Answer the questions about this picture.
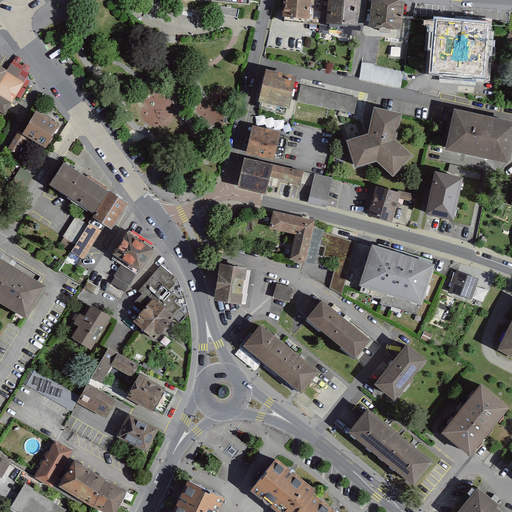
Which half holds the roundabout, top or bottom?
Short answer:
bottom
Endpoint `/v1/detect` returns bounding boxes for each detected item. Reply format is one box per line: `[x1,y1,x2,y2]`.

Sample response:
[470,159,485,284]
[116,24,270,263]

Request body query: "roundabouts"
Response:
[192,362,252,422]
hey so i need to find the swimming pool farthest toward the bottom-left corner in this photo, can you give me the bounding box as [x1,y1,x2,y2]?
[24,438,40,454]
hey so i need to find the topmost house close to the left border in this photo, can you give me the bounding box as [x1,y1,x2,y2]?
[0,56,30,114]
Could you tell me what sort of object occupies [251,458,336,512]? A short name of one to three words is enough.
building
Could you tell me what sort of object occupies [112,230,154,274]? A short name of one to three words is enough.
house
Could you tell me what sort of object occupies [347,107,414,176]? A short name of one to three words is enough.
building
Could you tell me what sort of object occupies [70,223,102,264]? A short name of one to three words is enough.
house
